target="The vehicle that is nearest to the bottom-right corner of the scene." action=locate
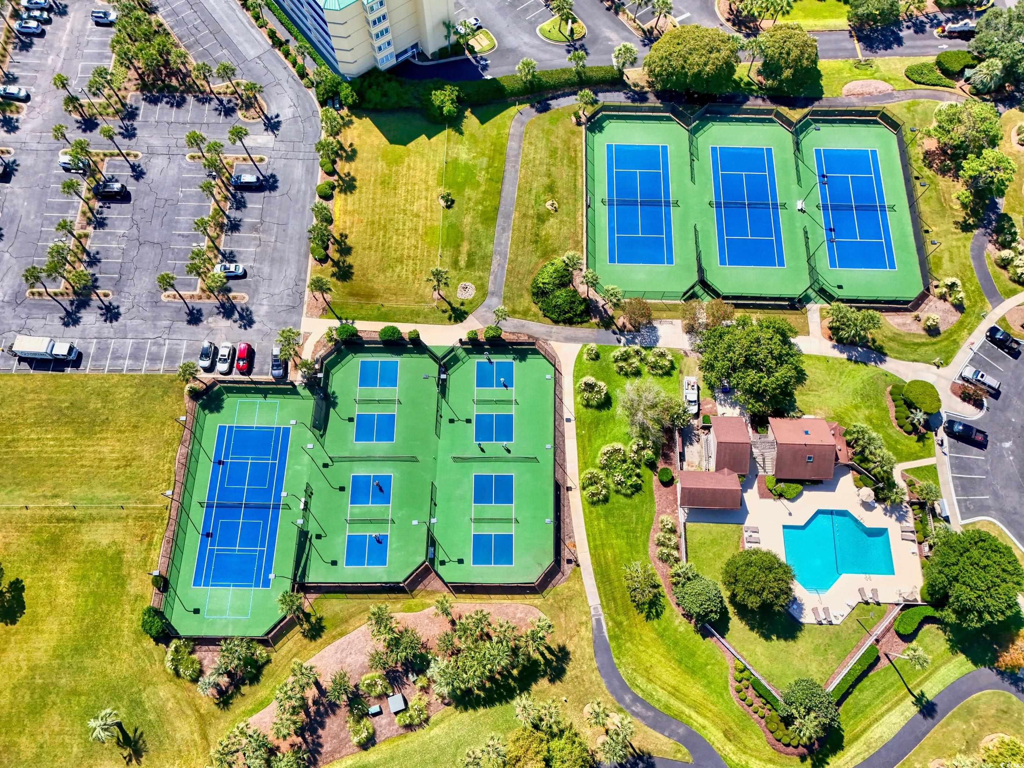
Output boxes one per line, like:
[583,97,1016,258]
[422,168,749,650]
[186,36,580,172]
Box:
[944,422,988,446]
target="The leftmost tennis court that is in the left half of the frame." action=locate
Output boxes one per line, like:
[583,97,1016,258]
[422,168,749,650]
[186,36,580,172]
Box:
[163,367,325,637]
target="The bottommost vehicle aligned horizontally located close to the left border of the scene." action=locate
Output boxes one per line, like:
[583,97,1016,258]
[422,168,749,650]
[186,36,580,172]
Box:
[12,341,78,365]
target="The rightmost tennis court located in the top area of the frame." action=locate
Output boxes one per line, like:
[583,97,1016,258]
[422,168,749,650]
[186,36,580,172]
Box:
[792,118,924,309]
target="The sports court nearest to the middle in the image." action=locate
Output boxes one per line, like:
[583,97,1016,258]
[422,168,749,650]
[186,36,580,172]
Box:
[435,347,555,456]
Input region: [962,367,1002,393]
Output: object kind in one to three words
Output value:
car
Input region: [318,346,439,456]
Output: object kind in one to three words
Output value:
sports court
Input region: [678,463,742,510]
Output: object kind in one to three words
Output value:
building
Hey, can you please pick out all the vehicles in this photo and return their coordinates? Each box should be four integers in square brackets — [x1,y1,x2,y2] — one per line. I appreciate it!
[217,344,234,373]
[93,184,127,200]
[22,0,50,11]
[269,346,286,380]
[0,166,10,178]
[462,15,484,33]
[235,343,253,372]
[22,10,50,24]
[0,87,29,101]
[962,367,1002,393]
[14,20,43,35]
[944,422,988,446]
[12,341,78,365]
[91,9,118,24]
[983,327,1023,355]
[231,174,261,189]
[197,340,216,369]
[215,263,245,278]
[683,376,700,413]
